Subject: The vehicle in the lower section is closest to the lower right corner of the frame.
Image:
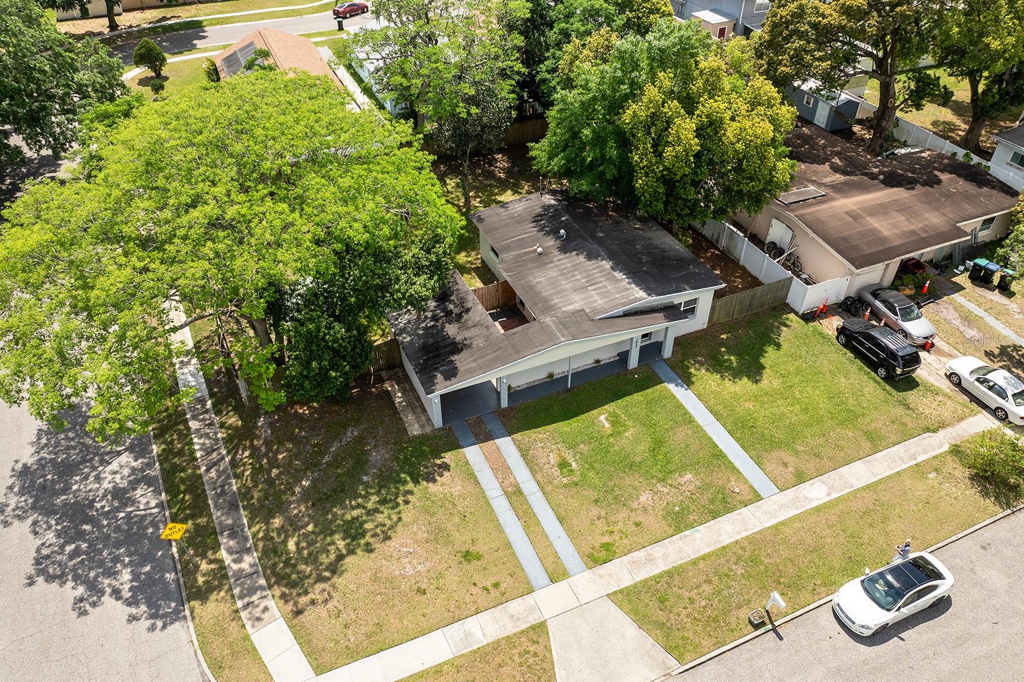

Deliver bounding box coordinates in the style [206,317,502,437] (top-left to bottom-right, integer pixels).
[831,553,963,642]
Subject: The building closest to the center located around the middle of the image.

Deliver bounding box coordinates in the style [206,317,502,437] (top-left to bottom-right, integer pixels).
[375,174,728,429]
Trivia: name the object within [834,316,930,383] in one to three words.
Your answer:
car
